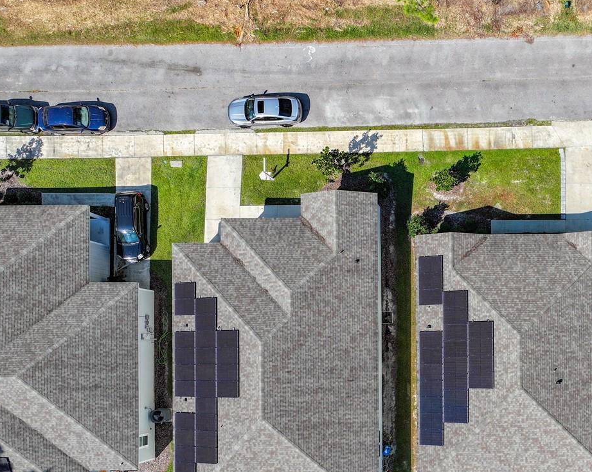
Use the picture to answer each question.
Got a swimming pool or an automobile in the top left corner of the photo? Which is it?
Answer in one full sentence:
There is an automobile in the top left corner of the photo.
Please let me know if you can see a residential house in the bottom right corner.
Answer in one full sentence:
Yes, a residential house can be seen in the bottom right corner.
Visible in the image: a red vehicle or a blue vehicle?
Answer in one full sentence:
It is a blue vehicle that can be seen here.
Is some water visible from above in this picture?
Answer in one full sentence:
No, the picture contains no water.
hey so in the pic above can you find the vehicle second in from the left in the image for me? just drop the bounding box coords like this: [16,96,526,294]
[35,102,113,137]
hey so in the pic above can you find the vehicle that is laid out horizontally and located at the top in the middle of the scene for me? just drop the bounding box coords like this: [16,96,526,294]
[228,93,305,130]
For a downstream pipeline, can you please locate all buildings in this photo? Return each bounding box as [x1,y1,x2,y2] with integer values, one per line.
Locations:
[0,205,163,472]
[171,190,383,472]
[414,231,592,472]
